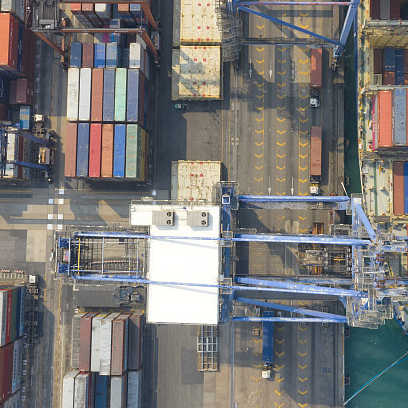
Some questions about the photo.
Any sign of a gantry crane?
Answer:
Yes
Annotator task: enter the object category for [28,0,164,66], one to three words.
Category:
container crane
